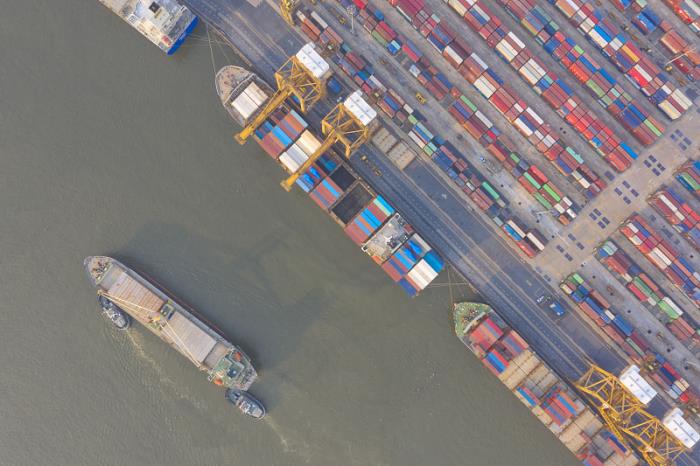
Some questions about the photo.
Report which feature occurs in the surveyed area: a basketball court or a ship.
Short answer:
ship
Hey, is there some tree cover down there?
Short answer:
No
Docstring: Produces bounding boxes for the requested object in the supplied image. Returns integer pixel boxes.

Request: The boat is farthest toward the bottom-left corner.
[95,292,131,329]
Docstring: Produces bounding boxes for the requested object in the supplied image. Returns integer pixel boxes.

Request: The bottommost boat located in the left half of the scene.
[224,389,267,420]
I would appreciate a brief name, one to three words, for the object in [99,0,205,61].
ship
